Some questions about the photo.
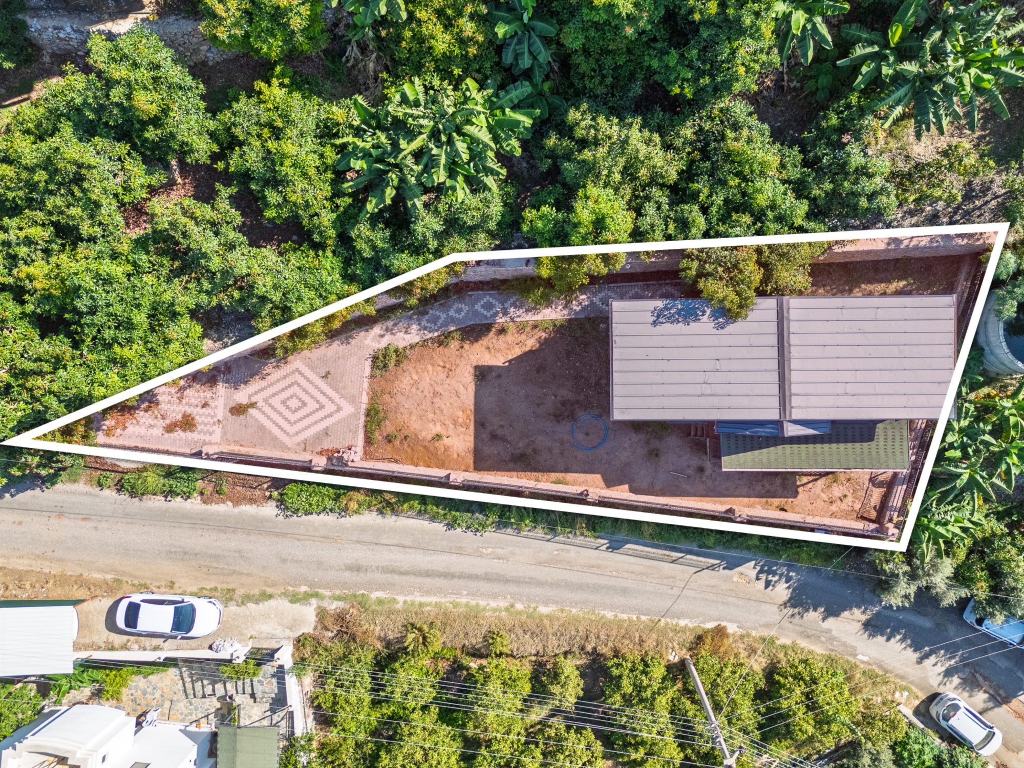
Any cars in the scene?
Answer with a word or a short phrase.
Yes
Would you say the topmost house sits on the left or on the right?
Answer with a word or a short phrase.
right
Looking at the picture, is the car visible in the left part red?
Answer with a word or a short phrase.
No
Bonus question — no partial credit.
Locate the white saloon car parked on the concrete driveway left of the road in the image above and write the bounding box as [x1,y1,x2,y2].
[115,589,228,648]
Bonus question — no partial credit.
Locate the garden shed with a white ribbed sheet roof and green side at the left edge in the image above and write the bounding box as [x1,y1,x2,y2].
[0,595,98,676]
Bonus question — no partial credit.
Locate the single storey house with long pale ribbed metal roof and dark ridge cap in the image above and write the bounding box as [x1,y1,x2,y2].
[607,293,959,471]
